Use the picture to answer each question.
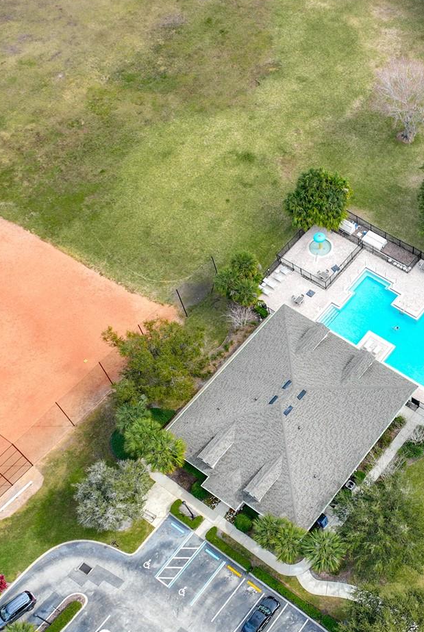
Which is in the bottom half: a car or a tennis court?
car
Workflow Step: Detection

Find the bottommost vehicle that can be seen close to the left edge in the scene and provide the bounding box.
[0,587,35,630]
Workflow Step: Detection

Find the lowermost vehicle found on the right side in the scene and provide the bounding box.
[239,595,279,632]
